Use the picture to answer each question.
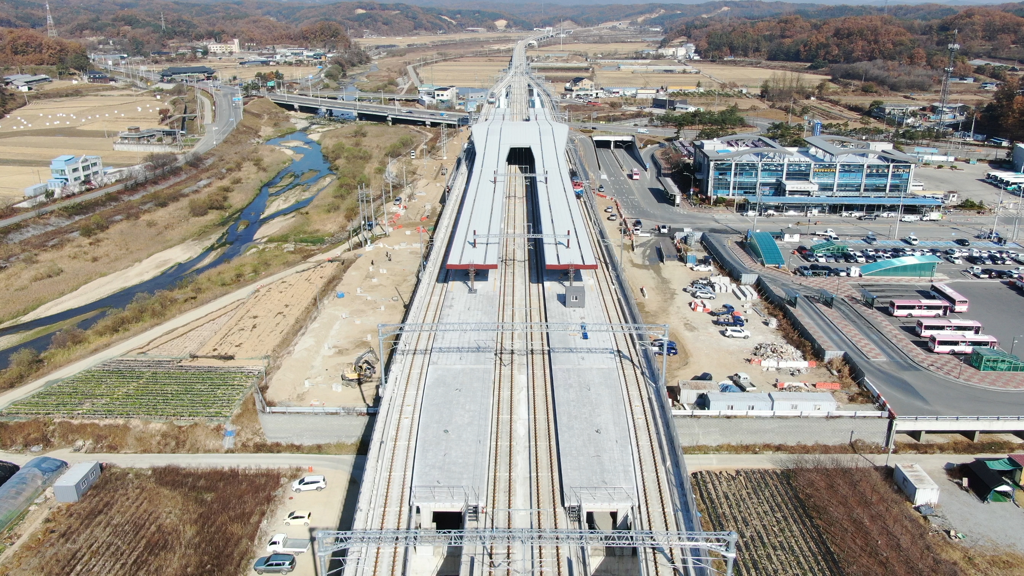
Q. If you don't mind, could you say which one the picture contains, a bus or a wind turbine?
bus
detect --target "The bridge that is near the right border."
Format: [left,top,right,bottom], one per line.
[851,377,1024,464]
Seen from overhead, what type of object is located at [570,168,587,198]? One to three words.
rail car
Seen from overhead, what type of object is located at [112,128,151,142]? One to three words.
house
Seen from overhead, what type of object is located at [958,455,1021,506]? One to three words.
tent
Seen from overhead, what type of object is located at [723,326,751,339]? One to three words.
vehicle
